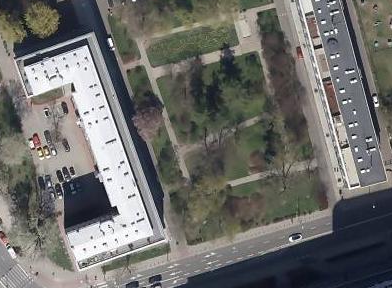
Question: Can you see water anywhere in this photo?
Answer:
No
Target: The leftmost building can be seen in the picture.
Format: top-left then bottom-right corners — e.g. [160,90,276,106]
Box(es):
[11,32,166,273]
